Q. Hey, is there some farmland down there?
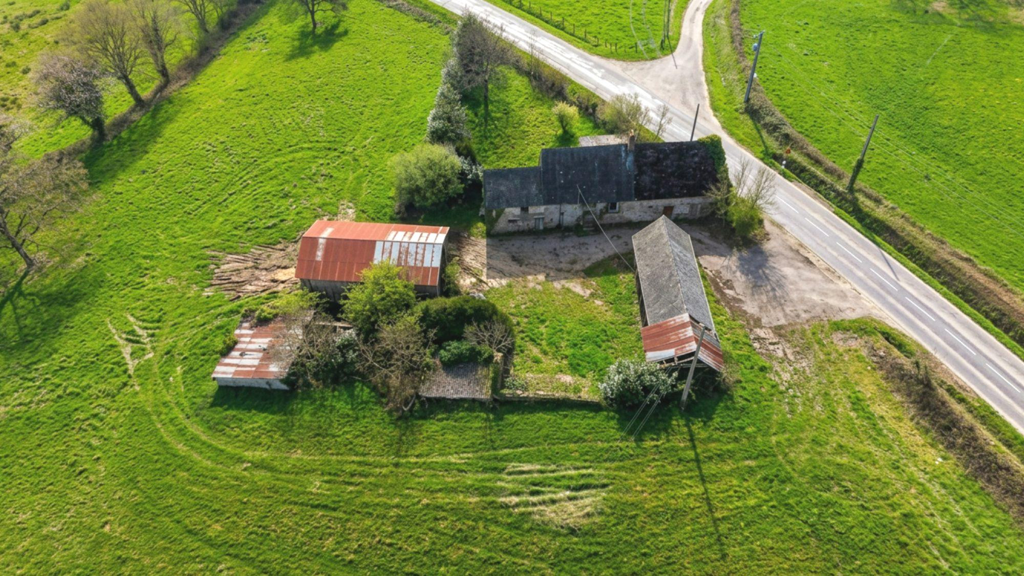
Yes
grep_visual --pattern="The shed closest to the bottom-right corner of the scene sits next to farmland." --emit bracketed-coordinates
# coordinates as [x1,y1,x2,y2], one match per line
[631,215,723,387]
